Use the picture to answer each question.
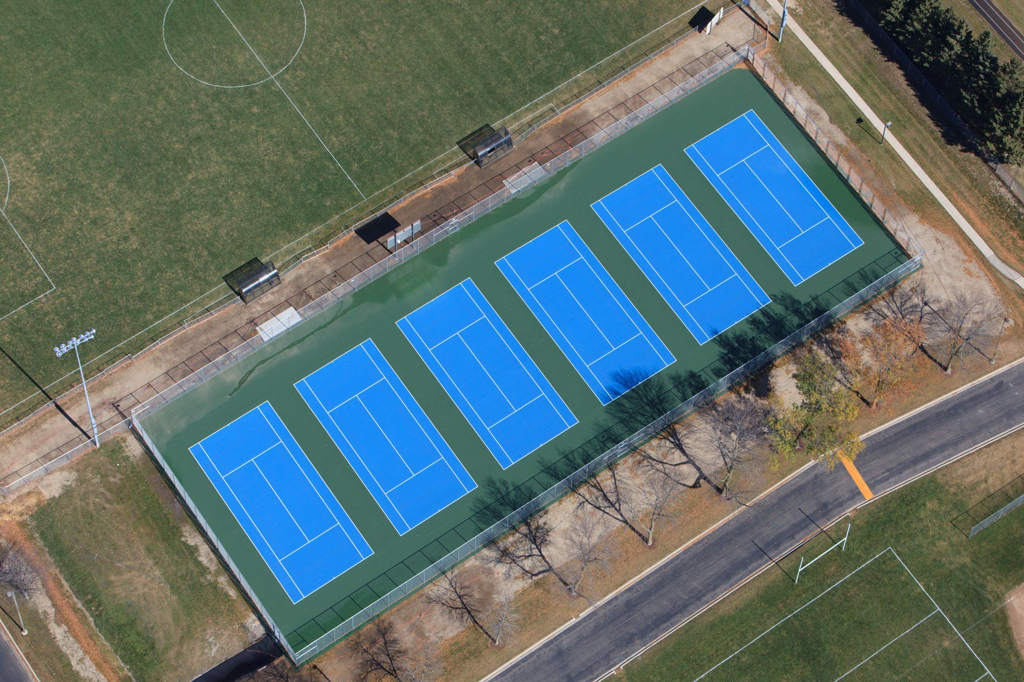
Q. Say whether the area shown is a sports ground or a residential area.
sports ground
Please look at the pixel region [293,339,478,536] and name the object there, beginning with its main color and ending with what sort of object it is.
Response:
blue tennis court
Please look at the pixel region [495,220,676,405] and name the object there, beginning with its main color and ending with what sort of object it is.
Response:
blue tennis court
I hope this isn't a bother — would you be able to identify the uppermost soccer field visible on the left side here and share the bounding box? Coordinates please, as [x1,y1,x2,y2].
[0,0,706,415]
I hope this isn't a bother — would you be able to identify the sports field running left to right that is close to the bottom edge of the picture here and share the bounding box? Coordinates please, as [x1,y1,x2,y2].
[694,547,997,682]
